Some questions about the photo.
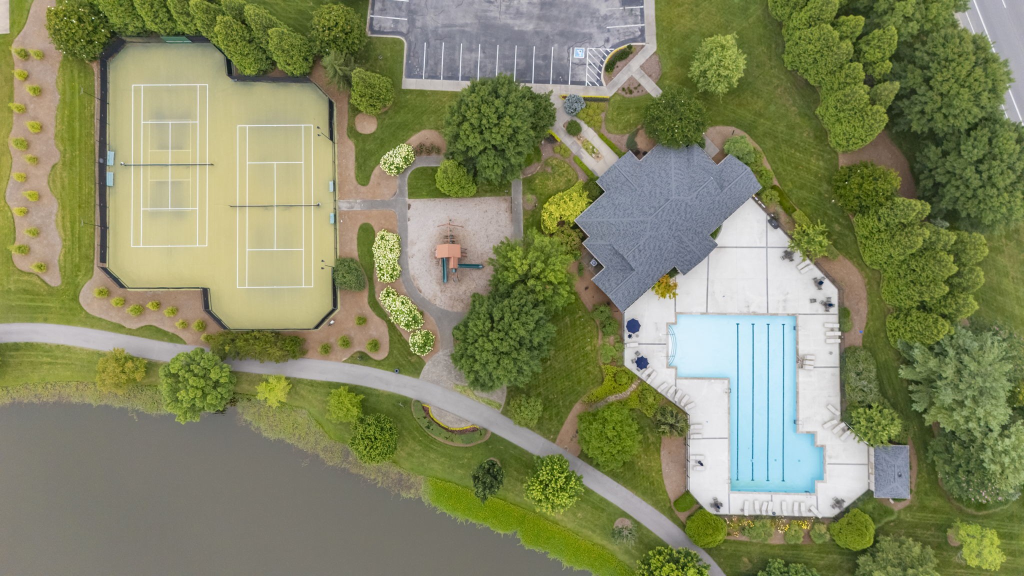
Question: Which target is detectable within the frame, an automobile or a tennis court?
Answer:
tennis court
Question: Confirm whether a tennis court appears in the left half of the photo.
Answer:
Yes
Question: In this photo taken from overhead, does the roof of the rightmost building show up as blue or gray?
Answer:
gray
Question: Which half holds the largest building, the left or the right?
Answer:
right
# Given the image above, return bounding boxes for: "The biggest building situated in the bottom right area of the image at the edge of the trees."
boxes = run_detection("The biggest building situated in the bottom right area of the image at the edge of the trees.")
[866,444,910,499]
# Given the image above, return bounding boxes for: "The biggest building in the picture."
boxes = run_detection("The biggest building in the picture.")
[573,127,762,313]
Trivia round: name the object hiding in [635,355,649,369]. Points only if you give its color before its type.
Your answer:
blue umbrella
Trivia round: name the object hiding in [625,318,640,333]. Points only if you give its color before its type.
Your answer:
blue umbrella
